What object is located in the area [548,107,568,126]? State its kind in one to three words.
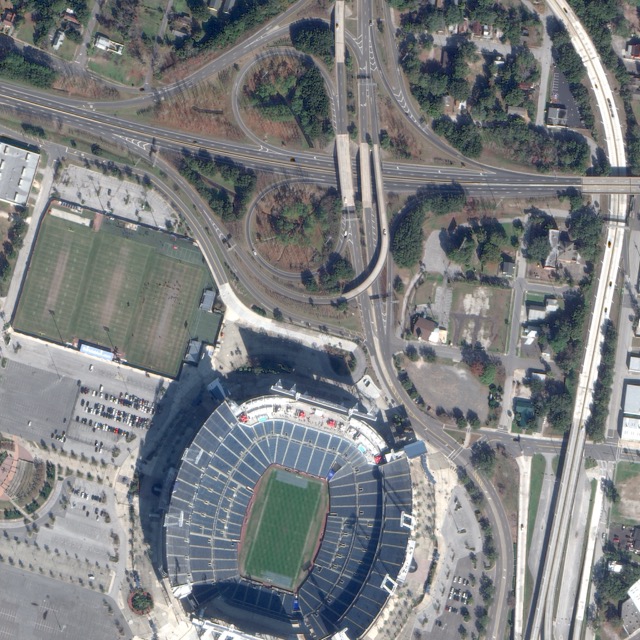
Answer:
building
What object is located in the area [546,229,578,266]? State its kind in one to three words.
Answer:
building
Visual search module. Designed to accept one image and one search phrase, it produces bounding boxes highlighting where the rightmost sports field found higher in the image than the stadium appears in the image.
[126,257,202,370]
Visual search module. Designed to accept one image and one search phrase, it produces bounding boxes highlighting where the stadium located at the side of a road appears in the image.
[163,378,428,640]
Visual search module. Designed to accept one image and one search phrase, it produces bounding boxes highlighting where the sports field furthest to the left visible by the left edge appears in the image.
[17,226,94,339]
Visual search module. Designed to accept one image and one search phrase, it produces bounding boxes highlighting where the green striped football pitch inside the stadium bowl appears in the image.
[239,464,329,593]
